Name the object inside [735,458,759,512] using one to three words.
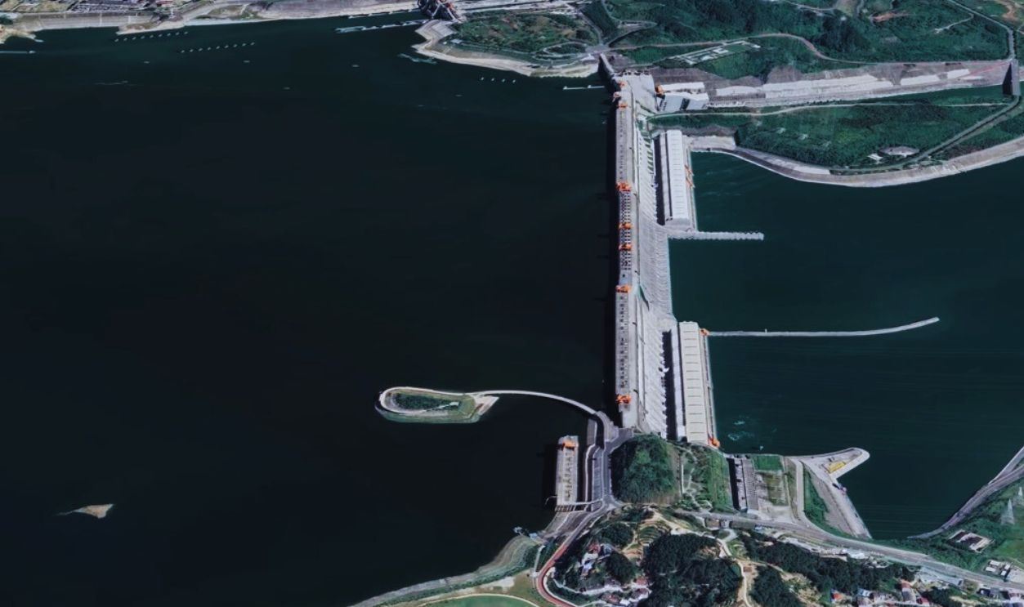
building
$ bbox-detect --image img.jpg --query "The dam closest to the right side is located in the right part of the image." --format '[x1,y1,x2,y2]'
[614,73,698,449]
